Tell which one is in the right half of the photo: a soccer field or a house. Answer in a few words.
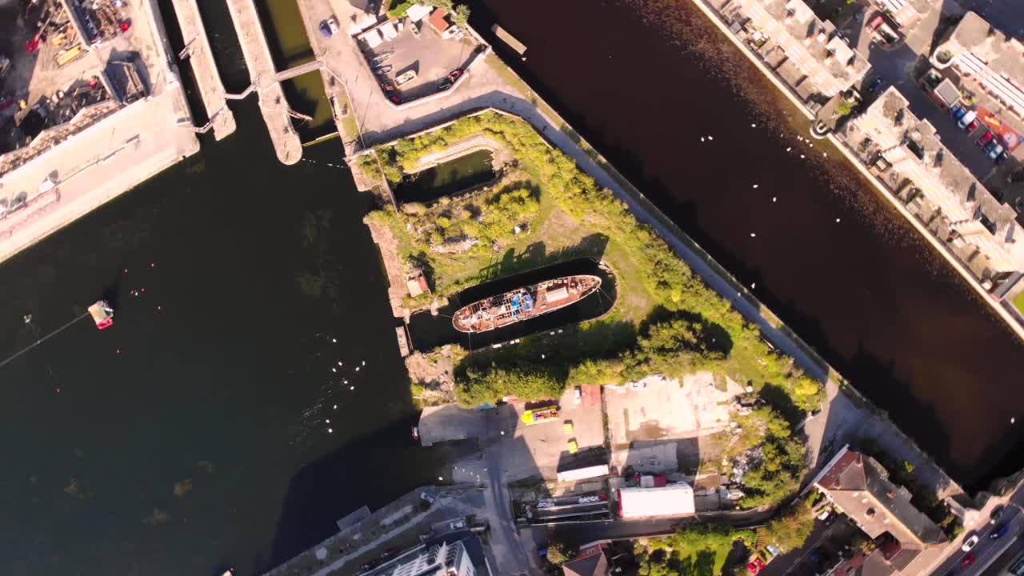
house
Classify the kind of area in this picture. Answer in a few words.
port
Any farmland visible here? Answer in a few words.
No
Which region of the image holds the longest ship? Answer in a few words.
center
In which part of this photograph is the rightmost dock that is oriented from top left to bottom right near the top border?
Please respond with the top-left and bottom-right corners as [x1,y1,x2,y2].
[493,27,526,57]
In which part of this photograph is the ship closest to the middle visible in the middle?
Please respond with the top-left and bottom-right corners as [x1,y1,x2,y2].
[452,279,605,330]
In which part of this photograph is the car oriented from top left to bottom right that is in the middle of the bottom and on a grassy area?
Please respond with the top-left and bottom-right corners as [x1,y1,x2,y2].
[420,492,435,505]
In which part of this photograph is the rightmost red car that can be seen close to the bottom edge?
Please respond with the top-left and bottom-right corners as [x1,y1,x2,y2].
[961,552,977,567]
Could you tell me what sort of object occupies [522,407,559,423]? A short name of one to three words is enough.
vehicle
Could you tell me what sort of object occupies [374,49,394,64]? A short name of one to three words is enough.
boat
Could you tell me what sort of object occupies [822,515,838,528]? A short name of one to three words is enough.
vehicle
